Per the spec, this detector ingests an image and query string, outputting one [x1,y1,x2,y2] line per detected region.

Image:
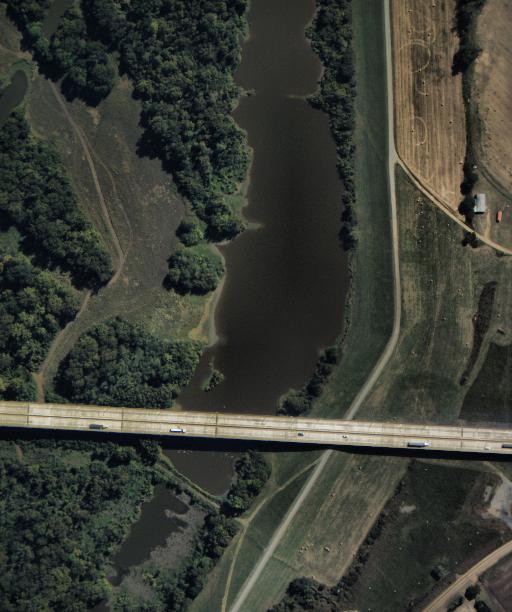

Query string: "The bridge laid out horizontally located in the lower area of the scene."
[0,401,512,454]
